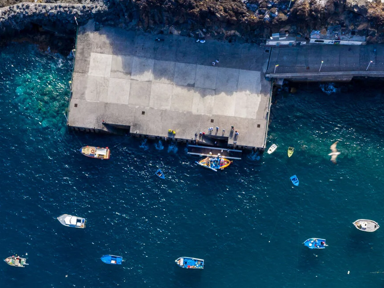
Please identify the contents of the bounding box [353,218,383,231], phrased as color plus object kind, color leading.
white boat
